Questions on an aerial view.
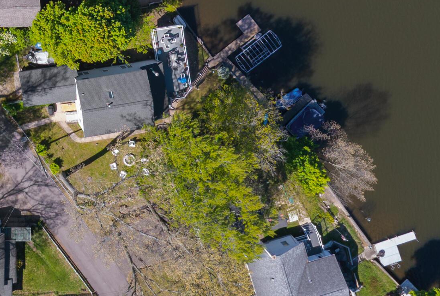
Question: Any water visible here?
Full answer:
Yes, water can be seen from above here.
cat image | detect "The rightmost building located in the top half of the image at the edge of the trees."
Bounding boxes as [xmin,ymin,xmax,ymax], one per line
[72,61,164,137]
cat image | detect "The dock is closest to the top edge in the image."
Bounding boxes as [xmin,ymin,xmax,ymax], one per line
[205,31,261,68]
